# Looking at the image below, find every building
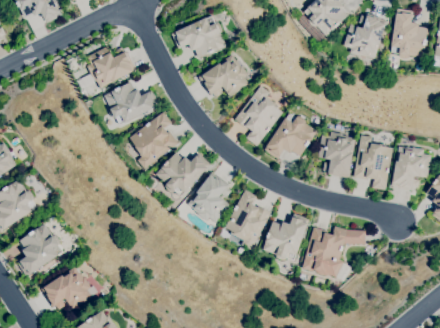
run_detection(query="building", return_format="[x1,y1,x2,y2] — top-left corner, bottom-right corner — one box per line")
[263,216,309,263]
[78,314,114,328]
[303,226,366,276]
[42,268,98,310]
[346,13,388,64]
[188,172,232,226]
[318,132,358,177]
[392,10,428,58]
[234,85,282,144]
[0,146,16,175]
[266,114,316,160]
[154,144,212,200]
[129,113,179,170]
[104,84,158,126]
[353,134,394,190]
[87,46,136,86]
[16,0,62,23]
[18,228,60,279]
[300,0,355,36]
[0,182,35,234]
[391,147,434,196]
[428,174,440,219]
[198,55,249,98]
[176,16,226,58]
[226,191,268,248]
